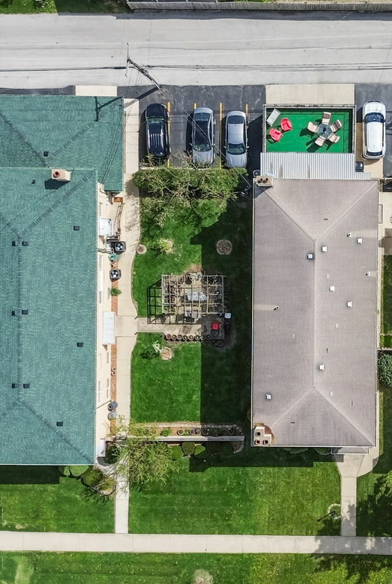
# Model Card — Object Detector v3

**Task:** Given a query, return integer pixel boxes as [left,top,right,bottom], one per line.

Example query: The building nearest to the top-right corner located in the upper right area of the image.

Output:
[262,101,356,173]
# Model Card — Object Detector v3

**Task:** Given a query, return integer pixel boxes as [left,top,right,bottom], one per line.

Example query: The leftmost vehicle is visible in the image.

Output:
[143,105,173,165]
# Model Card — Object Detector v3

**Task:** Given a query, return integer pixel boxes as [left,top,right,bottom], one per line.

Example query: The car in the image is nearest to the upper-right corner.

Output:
[360,103,388,160]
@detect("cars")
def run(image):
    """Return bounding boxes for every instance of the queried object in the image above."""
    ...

[143,105,173,165]
[190,108,216,165]
[222,112,249,171]
[360,103,388,160]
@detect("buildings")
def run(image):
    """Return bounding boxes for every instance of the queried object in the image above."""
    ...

[250,177,384,454]
[0,167,116,467]
[262,101,356,173]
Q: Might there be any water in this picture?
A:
No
